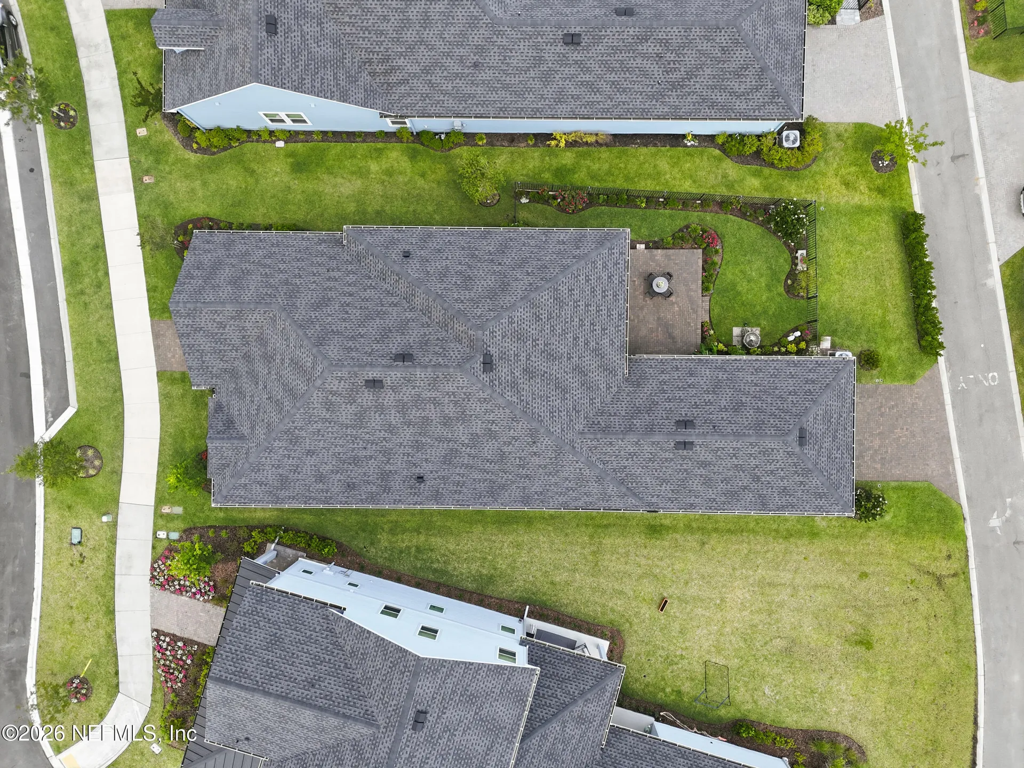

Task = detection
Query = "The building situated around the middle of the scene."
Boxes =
[170,225,858,516]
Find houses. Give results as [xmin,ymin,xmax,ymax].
[150,0,808,139]
[170,225,858,516]
[179,533,793,768]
